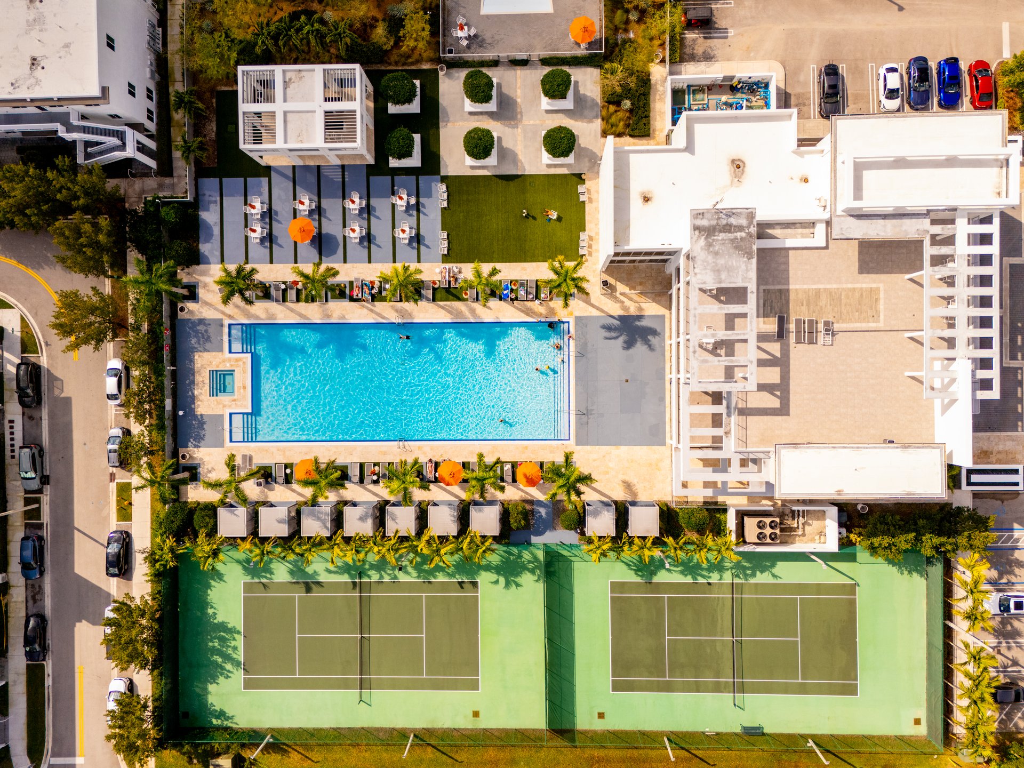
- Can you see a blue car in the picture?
Yes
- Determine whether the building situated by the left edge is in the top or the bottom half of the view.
top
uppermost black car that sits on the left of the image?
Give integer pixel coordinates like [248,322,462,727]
[15,363,42,407]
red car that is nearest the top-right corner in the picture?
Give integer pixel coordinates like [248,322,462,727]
[966,60,994,111]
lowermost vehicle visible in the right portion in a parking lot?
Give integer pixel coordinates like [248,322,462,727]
[989,682,1024,705]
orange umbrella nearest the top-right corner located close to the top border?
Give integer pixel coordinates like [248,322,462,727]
[569,17,596,45]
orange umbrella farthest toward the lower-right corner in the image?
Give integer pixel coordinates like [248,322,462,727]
[515,460,542,488]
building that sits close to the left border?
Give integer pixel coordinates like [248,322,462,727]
[0,0,161,169]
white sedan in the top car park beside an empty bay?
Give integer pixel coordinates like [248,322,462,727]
[876,63,903,113]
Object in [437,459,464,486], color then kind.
orange umbrella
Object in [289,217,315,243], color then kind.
orange umbrella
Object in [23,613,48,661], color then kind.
black car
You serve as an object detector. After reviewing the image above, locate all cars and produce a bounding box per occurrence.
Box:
[20,535,45,578]
[106,676,132,724]
[876,63,903,113]
[818,59,844,118]
[905,56,933,110]
[989,682,1024,705]
[23,613,48,661]
[966,60,994,111]
[15,363,42,407]
[103,359,128,404]
[105,530,130,577]
[935,57,963,109]
[105,427,130,468]
[19,446,45,490]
